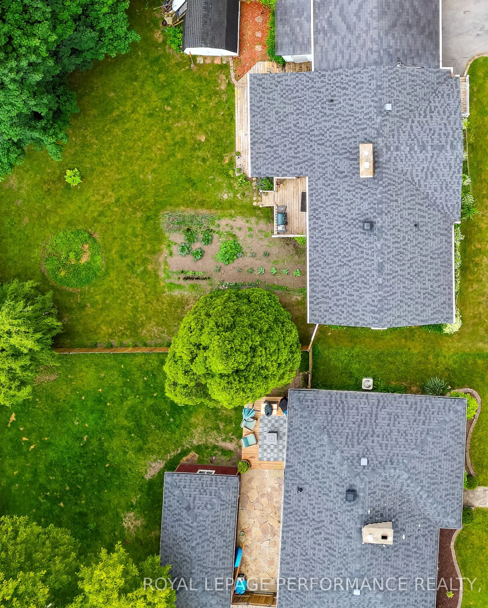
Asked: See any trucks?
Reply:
No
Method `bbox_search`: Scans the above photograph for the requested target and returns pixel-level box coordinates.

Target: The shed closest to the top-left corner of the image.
[184,0,242,58]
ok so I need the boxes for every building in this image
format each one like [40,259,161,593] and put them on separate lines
[276,385,467,608]
[247,0,466,330]
[184,0,242,58]
[162,463,242,608]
